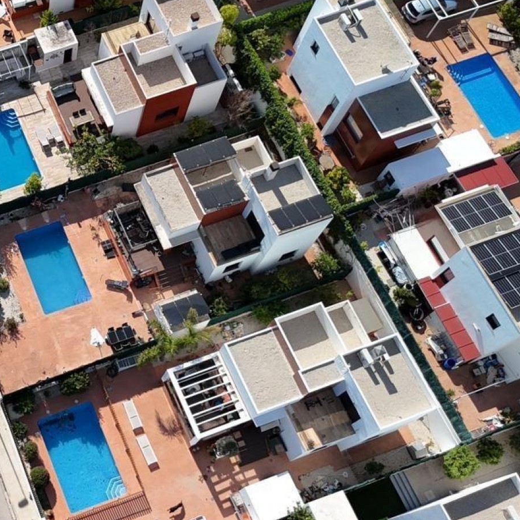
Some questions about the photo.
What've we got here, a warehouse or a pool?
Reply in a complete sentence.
Of the two, only a pool appears.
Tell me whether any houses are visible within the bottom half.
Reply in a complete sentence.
Yes, a house can be seen within the bottom half.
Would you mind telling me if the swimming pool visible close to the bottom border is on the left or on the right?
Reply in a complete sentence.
The swimming pool visible close to the bottom border appears in the left half of the scene.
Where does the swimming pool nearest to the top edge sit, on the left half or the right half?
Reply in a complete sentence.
The swimming pool nearest to the top edge sits on the right side.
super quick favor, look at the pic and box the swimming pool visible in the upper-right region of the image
[446,50,520,140]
